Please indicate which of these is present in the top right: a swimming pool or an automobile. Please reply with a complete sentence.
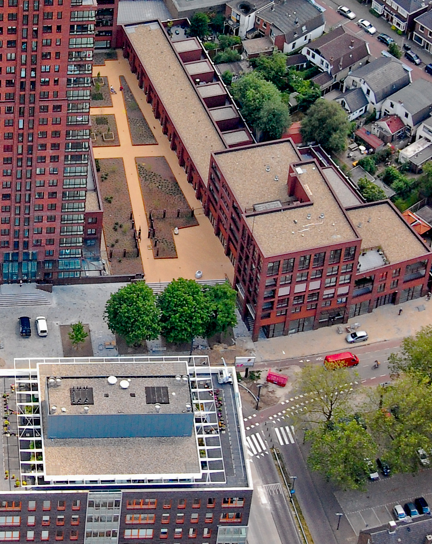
Visible in the top right is an automobile.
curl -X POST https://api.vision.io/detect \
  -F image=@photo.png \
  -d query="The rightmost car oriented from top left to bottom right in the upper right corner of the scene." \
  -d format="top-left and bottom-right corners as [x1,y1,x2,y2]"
[403,50,424,66]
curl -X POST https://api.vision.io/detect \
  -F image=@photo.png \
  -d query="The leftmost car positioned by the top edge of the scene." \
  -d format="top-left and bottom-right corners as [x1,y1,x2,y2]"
[336,7,357,21]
